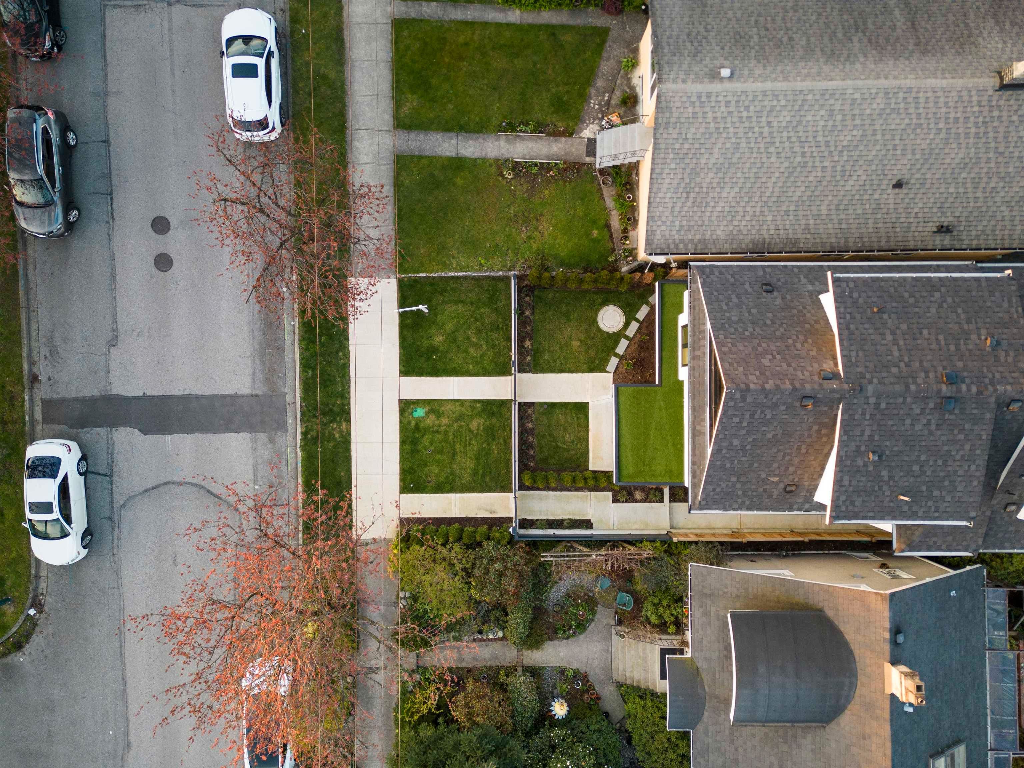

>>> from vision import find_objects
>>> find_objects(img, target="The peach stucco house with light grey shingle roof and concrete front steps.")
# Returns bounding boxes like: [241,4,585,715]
[638,0,1024,261]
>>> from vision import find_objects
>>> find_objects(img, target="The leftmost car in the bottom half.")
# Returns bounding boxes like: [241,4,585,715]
[17,439,97,569]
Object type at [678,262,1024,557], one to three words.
house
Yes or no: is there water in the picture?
No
